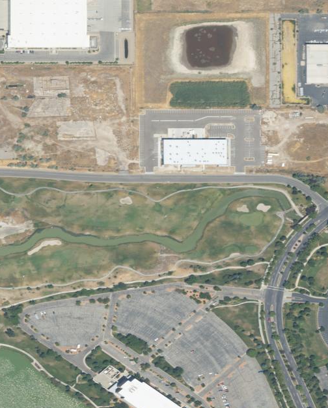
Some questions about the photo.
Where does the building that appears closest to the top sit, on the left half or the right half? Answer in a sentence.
You can find the building that appears closest to the top on the left side of the picture.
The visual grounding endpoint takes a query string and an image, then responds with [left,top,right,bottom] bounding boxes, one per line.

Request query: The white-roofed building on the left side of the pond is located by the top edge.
[7,0,90,48]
